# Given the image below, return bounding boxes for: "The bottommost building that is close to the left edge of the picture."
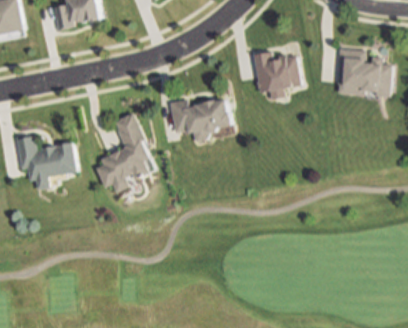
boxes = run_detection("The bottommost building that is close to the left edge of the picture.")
[18,134,80,192]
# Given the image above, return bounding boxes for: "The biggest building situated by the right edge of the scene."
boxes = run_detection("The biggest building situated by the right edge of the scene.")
[338,48,398,100]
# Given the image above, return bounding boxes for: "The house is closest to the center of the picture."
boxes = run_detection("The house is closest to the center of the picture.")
[172,98,238,147]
